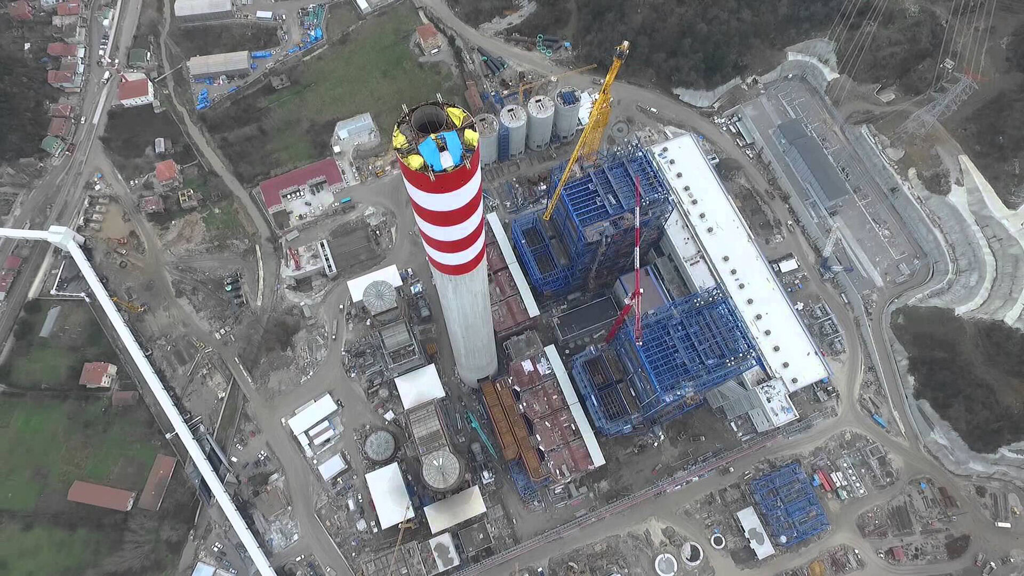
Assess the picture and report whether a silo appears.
Yes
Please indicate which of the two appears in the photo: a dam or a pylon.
pylon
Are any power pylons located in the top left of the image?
No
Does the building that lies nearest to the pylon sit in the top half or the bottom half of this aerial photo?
top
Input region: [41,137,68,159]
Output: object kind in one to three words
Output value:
house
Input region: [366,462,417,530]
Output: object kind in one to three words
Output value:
building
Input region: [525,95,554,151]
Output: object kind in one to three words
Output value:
silo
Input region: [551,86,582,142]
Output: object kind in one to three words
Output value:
silo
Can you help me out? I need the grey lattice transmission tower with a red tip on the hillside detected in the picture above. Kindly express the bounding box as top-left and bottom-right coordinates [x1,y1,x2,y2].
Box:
[896,66,982,137]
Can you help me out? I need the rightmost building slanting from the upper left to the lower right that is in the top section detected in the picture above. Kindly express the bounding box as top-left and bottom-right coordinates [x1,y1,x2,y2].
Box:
[765,118,854,217]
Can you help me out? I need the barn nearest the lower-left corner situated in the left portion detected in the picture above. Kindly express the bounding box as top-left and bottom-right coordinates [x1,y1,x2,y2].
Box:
[67,481,140,511]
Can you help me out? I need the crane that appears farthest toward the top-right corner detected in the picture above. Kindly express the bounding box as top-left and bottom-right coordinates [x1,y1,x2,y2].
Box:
[818,223,861,277]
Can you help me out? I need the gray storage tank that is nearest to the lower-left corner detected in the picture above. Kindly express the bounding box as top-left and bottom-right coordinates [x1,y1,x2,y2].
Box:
[363,429,399,464]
